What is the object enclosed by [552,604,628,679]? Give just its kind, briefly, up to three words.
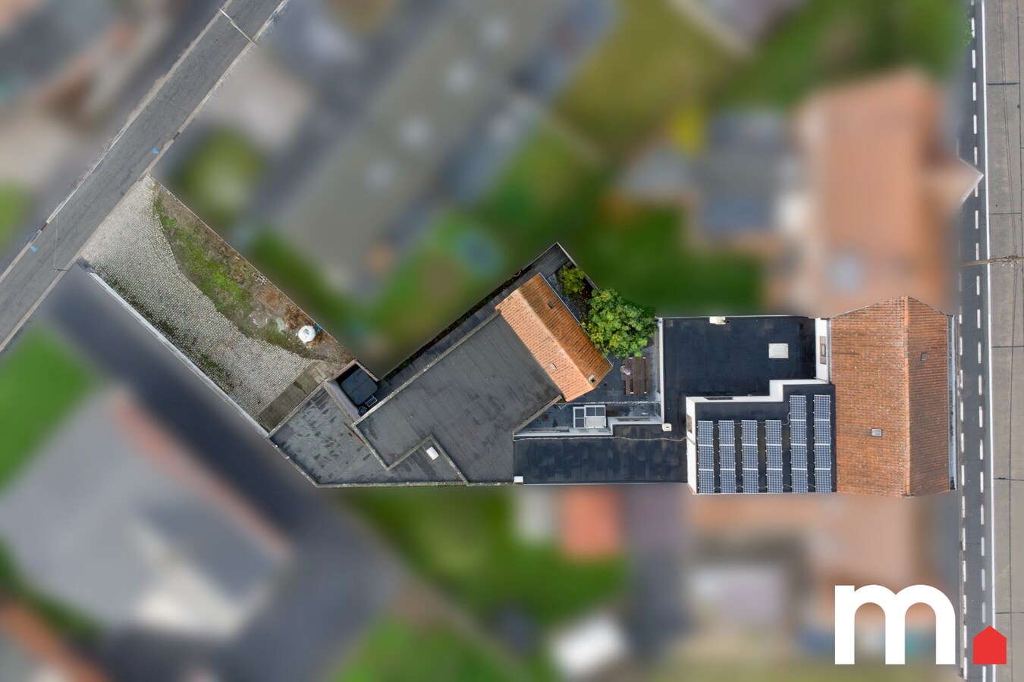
shed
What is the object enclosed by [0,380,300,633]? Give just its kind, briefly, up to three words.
house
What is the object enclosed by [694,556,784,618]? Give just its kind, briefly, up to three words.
shed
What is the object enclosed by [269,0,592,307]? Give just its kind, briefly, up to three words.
building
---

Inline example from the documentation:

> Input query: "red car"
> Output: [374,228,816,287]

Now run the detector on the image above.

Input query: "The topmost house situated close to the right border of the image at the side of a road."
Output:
[794,84,984,317]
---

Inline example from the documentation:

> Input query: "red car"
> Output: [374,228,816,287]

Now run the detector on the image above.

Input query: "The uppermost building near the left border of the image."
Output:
[0,0,195,122]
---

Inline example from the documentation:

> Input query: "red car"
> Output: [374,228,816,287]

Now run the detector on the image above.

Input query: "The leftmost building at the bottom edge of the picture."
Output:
[0,573,131,682]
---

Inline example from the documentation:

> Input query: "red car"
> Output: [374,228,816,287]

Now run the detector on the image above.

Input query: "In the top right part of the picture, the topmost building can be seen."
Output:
[710,0,794,54]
